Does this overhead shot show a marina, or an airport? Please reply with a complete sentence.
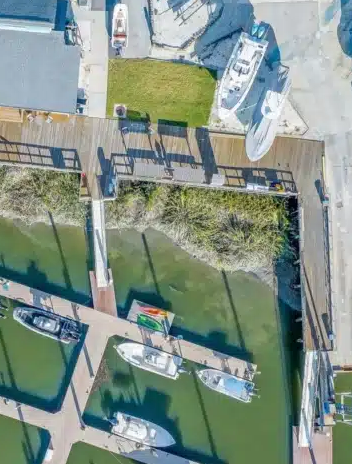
It's a marina.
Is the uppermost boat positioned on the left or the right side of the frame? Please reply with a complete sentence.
The uppermost boat sits on the left side.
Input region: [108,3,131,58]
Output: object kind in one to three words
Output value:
boat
